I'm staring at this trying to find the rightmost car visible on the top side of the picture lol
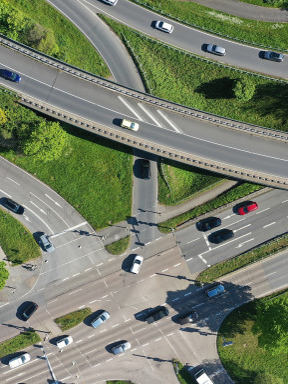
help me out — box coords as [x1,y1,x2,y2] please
[263,50,286,64]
